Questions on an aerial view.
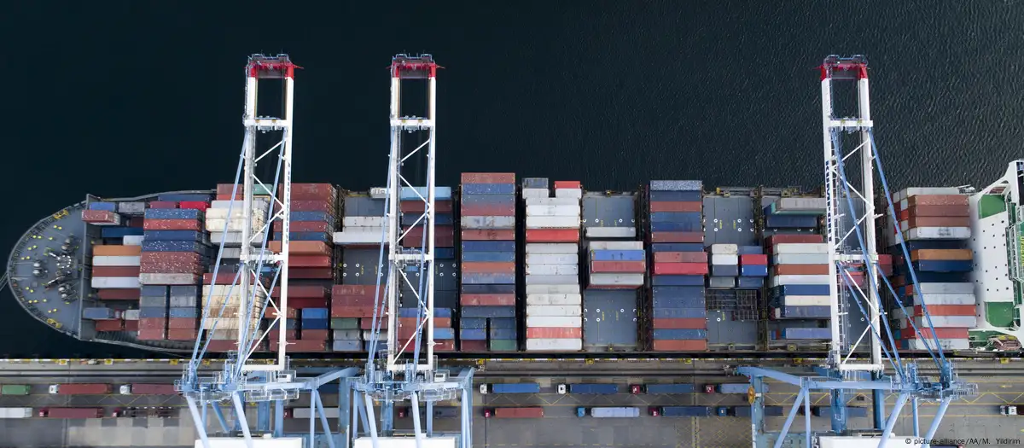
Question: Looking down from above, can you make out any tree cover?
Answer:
No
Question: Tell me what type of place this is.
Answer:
port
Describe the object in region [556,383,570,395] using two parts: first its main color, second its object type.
white vehicle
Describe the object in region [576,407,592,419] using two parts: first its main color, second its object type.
blue vehicle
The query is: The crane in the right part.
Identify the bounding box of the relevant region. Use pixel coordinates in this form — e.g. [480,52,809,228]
[715,51,968,448]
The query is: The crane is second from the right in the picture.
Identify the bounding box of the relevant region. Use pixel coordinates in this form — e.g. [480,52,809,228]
[343,52,495,448]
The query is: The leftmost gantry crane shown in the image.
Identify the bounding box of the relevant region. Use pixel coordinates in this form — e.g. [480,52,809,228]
[168,51,378,448]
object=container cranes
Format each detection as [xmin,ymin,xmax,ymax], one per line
[715,51,968,448]
[343,52,495,448]
[168,51,378,448]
